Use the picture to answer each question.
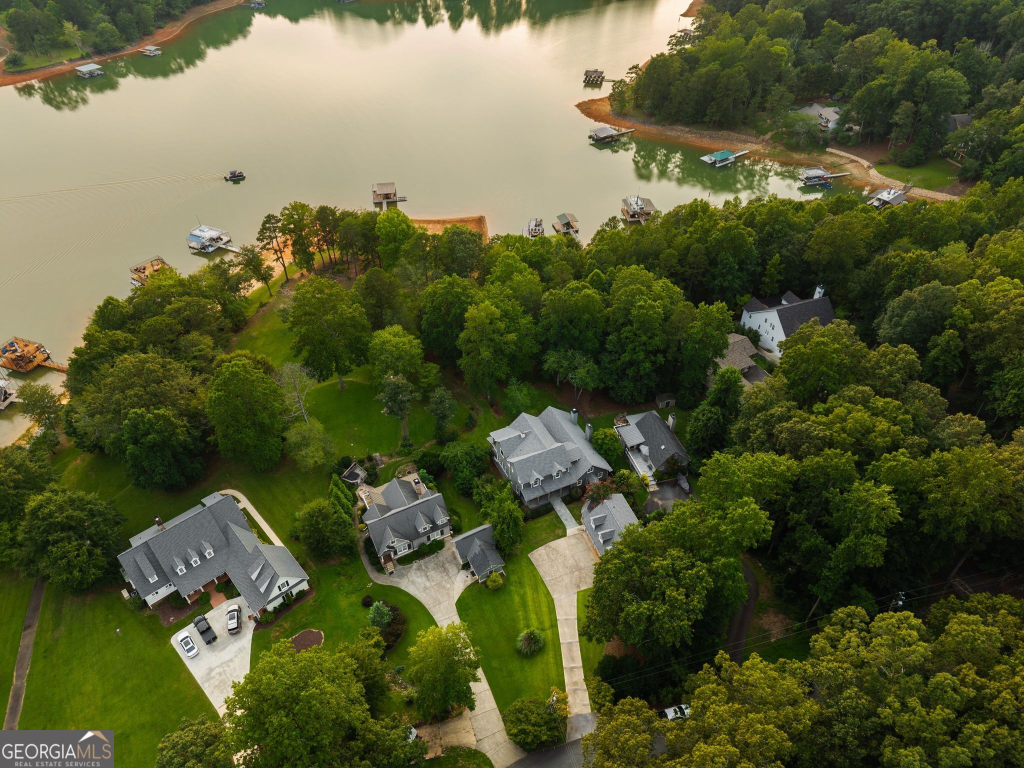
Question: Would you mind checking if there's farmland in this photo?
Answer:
No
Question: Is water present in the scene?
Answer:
Yes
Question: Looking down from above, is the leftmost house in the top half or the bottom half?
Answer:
bottom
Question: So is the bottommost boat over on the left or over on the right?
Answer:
right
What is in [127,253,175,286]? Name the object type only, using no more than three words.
pier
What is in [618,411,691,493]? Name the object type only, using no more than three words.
house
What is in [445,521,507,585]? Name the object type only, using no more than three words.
building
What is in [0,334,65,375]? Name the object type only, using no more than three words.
pier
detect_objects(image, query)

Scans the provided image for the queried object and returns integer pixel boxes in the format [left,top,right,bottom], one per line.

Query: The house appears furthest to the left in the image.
[118,489,309,621]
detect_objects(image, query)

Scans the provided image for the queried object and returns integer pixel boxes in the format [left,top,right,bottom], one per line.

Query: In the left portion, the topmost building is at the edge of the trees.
[371,180,408,204]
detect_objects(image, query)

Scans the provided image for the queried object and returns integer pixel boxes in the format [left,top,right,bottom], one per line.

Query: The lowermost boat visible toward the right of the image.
[672,470,692,501]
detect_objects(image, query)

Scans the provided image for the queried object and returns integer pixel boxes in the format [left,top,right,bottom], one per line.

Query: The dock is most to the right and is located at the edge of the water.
[866,184,914,212]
